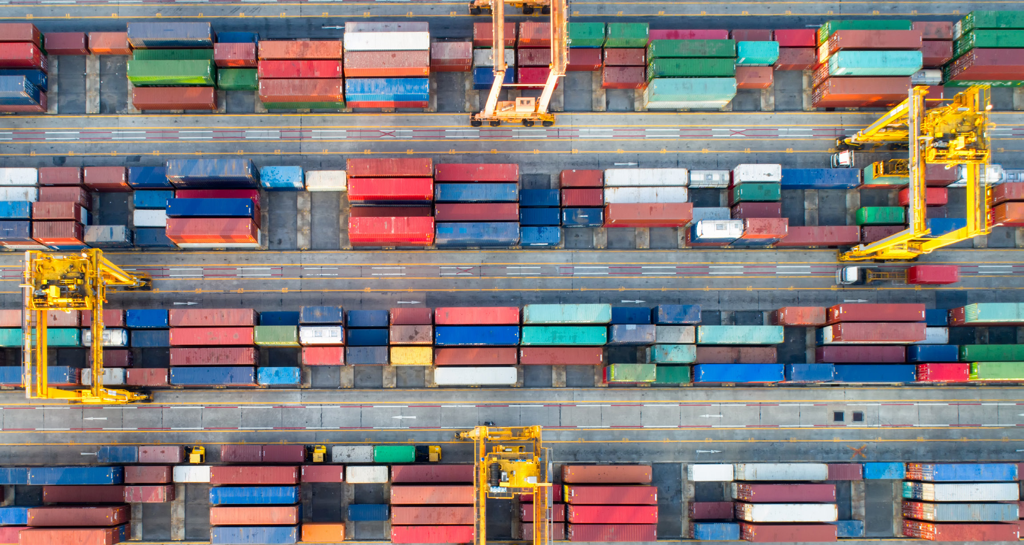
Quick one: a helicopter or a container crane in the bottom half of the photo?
container crane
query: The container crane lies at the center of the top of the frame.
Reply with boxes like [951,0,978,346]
[469,0,566,126]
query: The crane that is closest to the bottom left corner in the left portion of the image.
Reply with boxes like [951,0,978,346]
[21,249,151,401]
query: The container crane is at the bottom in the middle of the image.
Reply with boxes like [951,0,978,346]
[453,427,557,545]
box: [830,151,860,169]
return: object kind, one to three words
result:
vehicle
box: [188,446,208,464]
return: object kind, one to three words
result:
work vehicle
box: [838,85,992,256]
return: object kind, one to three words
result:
container crane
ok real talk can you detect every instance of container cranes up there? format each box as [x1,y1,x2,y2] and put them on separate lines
[838,85,992,256]
[453,427,557,545]
[21,249,151,401]
[469,0,566,126]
